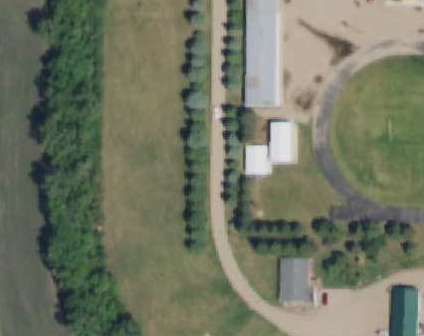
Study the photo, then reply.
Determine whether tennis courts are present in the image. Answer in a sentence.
No, I can see no tennis court in this picture.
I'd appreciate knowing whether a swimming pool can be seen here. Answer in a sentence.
No, there appears to be no swimming pool in this shot.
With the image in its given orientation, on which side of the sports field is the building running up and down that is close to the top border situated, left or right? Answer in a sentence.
You can see the building running up and down that is close to the top border positioned to the left of the sports field.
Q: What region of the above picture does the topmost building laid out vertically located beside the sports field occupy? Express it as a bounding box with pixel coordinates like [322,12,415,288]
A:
[246,0,280,105]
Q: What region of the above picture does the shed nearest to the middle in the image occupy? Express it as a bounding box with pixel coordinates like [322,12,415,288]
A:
[246,144,266,174]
